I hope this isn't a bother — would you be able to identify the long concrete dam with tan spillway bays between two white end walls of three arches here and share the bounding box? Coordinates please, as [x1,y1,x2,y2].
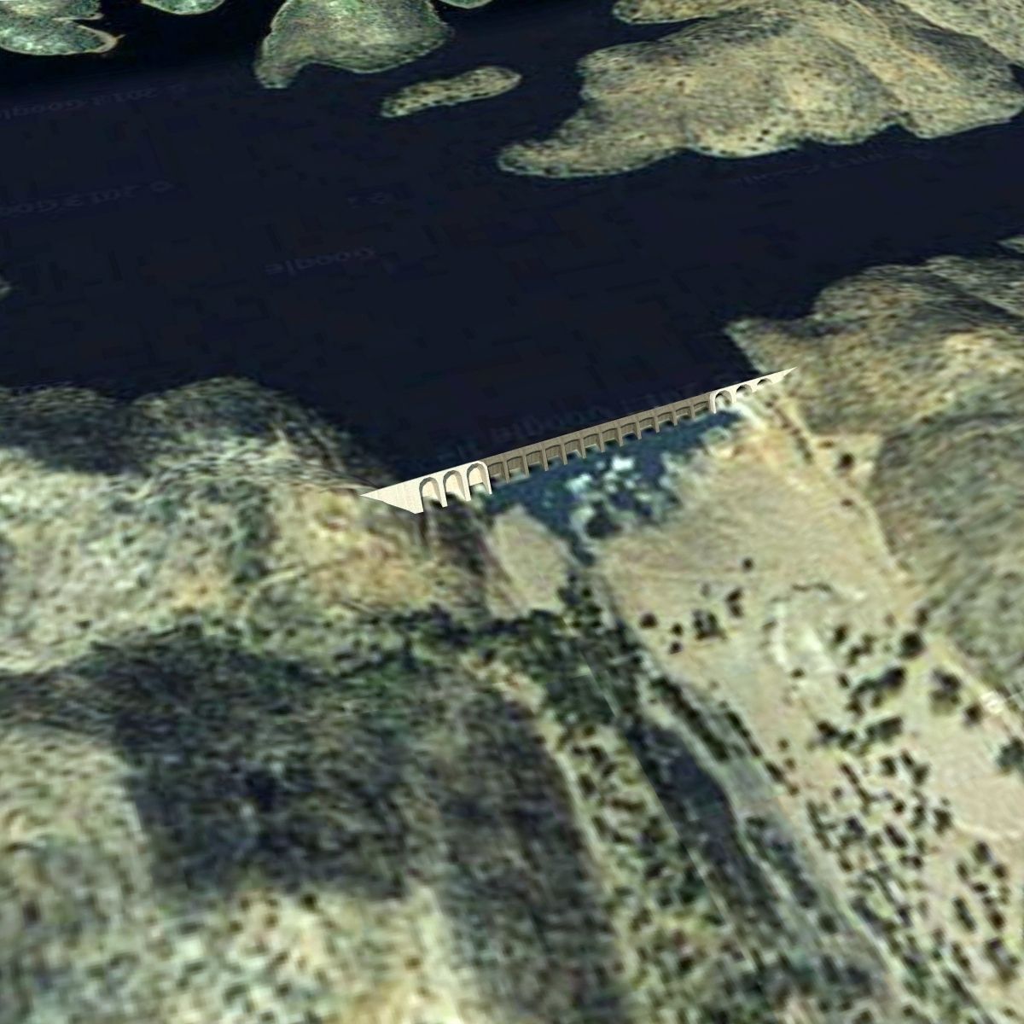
[359,367,798,517]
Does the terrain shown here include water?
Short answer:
Yes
